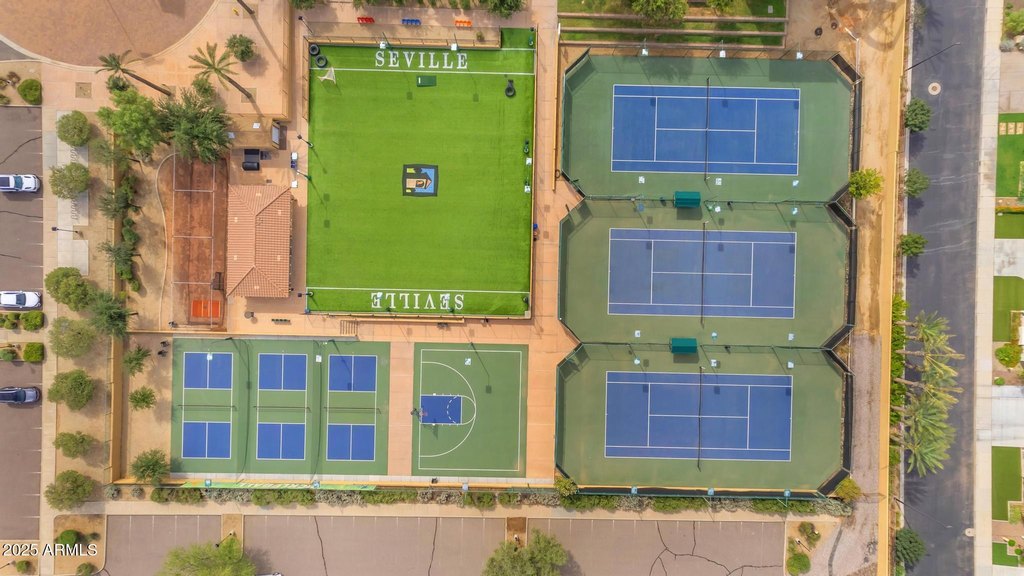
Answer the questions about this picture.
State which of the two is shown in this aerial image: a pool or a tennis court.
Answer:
tennis court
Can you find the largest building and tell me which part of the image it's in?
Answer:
left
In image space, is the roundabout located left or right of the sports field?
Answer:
to the left of it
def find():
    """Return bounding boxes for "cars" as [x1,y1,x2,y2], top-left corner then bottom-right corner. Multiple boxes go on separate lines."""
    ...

[0,173,40,194]
[0,388,39,407]
[0,290,40,310]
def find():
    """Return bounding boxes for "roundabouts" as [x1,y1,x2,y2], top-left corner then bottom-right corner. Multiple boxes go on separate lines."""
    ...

[0,0,225,74]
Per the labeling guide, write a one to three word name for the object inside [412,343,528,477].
basketball court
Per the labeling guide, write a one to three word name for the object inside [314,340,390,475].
sports court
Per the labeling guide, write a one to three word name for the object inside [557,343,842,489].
tennis court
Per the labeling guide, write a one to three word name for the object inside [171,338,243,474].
sports court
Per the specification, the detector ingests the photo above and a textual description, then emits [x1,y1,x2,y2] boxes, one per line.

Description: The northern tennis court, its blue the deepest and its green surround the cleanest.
[564,55,851,204]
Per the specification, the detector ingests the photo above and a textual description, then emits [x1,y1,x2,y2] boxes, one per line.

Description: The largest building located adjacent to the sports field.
[226,184,294,298]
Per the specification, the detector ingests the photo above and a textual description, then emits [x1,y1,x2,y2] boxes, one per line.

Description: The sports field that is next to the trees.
[306,27,536,316]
